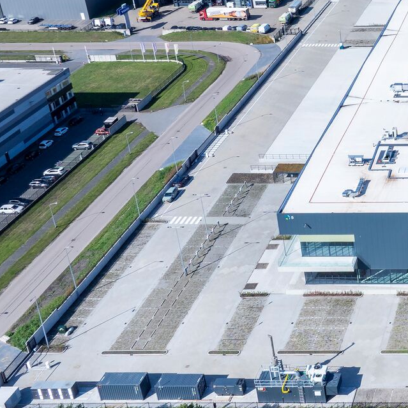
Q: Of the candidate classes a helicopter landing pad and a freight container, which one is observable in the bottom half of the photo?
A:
freight container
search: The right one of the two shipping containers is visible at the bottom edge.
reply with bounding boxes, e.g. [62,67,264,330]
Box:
[156,373,210,400]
